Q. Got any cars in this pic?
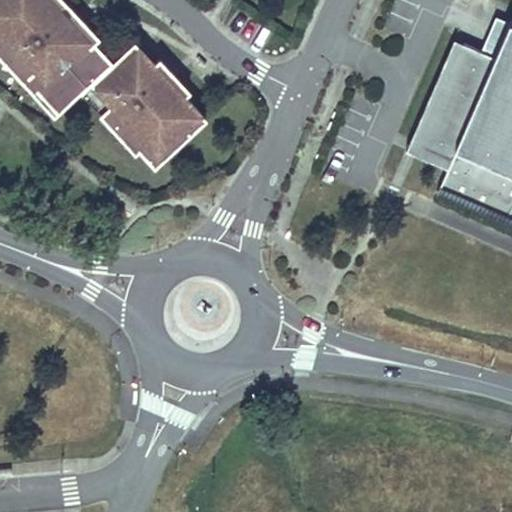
Yes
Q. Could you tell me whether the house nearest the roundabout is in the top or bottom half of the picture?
top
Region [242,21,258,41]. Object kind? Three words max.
car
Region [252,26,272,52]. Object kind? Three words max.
vehicle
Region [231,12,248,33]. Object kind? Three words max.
car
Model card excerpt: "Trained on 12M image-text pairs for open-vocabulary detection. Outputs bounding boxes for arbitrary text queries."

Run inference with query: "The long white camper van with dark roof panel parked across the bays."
[321,152,344,183]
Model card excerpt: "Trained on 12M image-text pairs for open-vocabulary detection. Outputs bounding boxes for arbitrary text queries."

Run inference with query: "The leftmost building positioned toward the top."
[0,0,111,119]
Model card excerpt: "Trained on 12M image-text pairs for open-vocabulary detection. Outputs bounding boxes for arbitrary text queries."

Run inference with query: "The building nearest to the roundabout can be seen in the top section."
[88,44,208,172]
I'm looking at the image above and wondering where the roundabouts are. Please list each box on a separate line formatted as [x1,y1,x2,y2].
[126,238,279,391]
